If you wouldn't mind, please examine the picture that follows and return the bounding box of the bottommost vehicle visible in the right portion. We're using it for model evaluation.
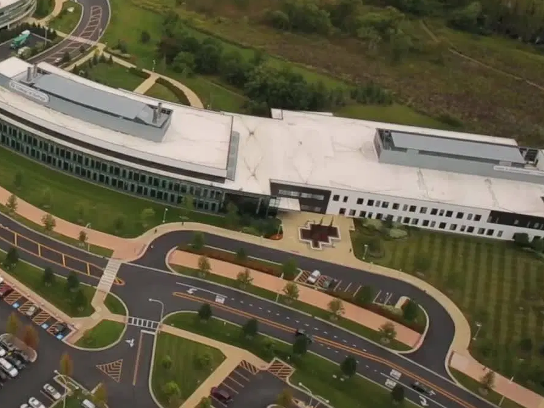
[411,381,434,398]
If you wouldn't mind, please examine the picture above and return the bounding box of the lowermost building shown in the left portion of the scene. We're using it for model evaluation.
[0,56,270,221]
